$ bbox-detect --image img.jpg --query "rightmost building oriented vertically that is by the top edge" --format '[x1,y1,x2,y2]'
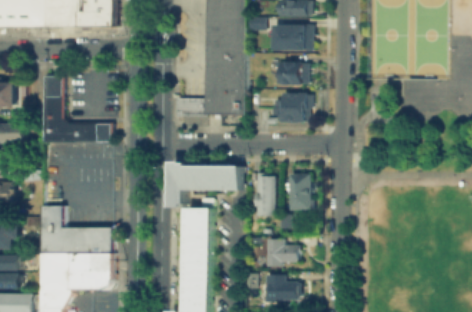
[206,0,251,113]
